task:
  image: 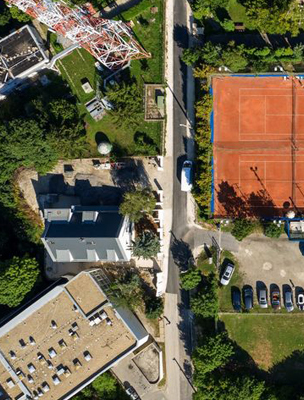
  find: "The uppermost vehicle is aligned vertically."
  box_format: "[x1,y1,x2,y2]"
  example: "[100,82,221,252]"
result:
[181,161,194,190]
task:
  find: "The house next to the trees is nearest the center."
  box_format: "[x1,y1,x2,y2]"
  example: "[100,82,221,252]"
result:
[39,208,136,262]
